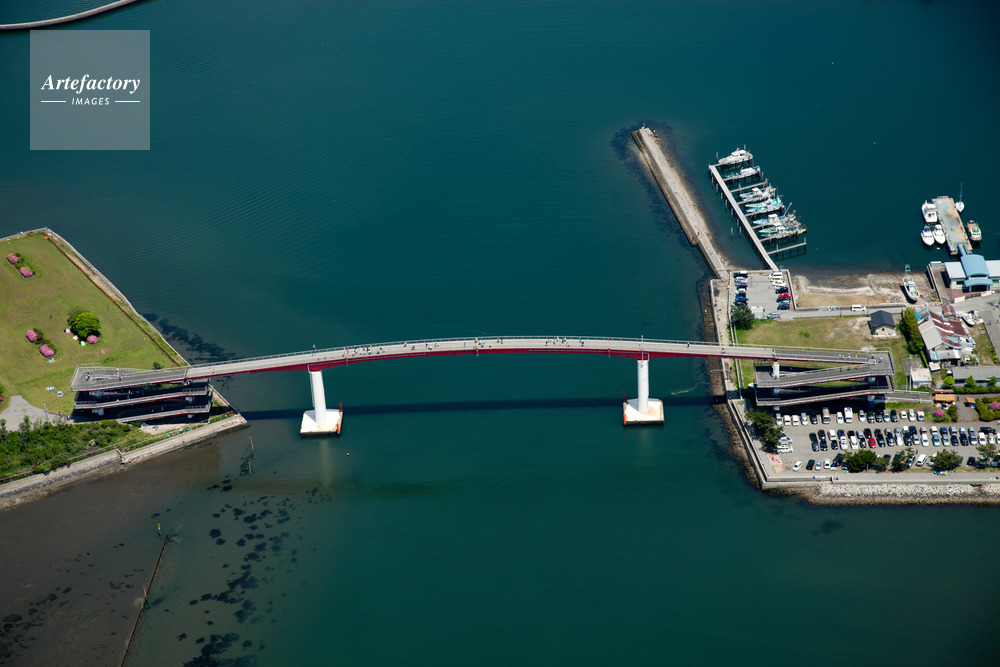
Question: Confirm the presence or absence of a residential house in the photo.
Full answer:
Yes, a residential house is visible in the scene.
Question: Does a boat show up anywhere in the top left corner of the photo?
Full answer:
No, no boat appears in the top left corner of the photo.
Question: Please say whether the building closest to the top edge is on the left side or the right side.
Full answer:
The building closest to the top edge sits on the right side.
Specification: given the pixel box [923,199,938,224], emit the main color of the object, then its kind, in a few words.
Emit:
white boat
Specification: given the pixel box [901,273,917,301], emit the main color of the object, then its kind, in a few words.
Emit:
white boat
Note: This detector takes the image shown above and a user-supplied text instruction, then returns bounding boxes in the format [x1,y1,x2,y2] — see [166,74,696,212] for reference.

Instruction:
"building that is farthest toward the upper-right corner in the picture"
[944,253,1000,292]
